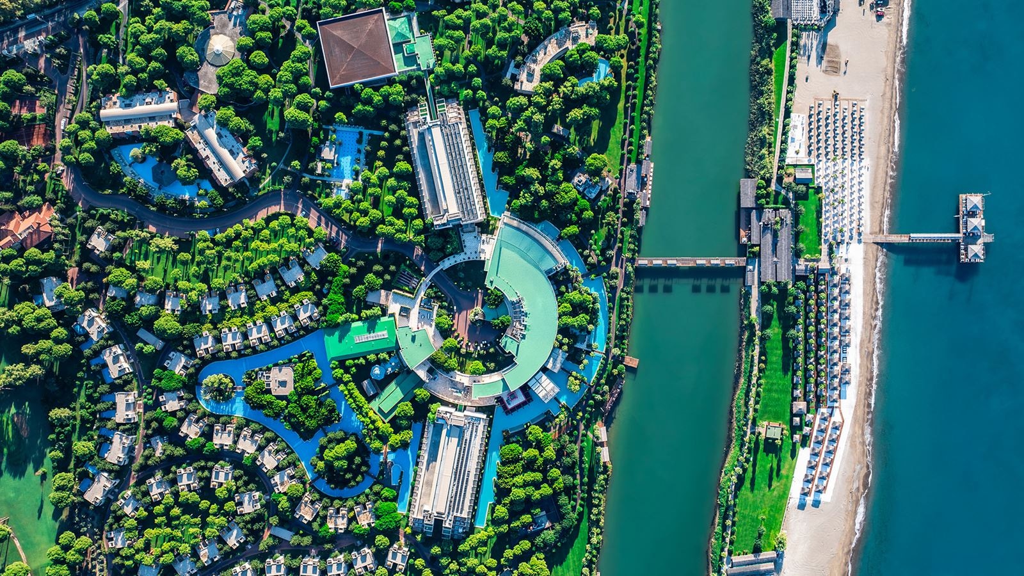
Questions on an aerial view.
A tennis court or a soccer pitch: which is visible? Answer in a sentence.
Visible in the photo is a tennis court.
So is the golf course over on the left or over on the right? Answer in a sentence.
The golf course is on the left side of the image.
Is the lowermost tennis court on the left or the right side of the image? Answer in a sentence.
The lowermost tennis court appears in the left half of the scene.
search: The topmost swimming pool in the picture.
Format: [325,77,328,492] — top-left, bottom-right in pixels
[577,57,610,86]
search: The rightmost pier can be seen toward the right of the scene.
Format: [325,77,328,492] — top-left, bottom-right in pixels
[861,192,995,262]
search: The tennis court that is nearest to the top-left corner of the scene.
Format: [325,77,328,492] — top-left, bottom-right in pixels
[8,97,46,114]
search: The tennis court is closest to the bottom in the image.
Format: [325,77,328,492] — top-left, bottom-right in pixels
[4,122,51,147]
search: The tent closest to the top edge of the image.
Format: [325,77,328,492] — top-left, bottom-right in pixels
[206,34,237,66]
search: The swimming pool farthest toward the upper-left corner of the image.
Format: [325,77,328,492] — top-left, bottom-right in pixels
[116,142,213,197]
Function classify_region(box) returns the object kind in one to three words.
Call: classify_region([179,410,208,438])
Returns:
house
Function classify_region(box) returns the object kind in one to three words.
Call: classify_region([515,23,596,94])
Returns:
building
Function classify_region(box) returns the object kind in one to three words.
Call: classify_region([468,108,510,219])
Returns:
swimming pool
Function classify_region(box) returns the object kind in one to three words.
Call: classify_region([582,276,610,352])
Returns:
swimming pool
